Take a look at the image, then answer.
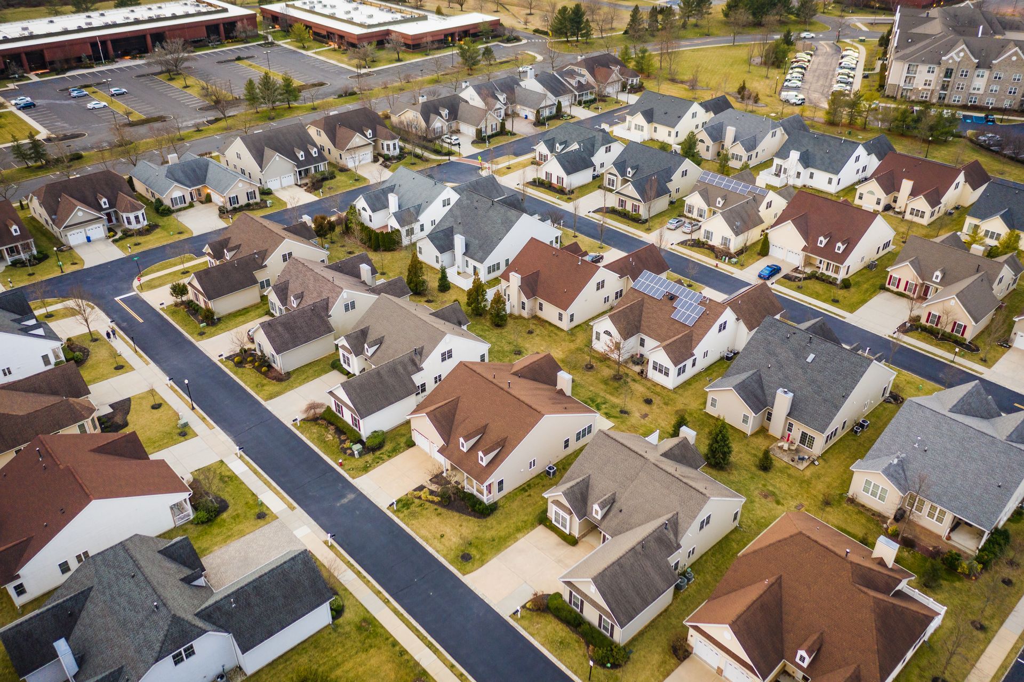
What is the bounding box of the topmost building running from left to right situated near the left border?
[0,0,256,77]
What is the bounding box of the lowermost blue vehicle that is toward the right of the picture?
[757,261,782,277]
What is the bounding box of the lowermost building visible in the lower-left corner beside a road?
[0,530,336,682]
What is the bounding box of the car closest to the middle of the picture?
[587,249,605,263]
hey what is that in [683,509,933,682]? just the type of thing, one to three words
house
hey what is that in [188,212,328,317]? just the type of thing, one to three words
house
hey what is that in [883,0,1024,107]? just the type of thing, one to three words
building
